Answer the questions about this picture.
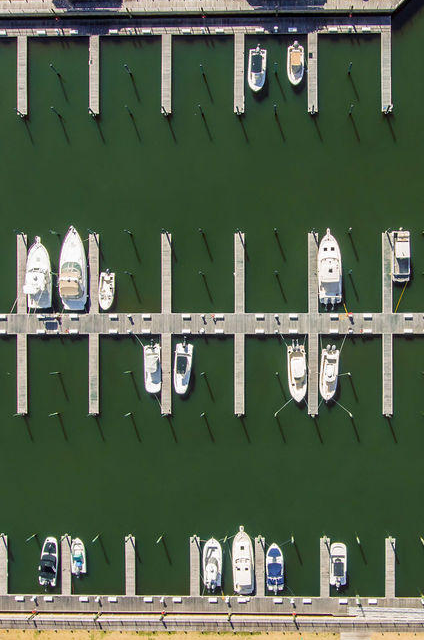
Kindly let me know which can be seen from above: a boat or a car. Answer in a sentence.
Visible in the photo is a boat.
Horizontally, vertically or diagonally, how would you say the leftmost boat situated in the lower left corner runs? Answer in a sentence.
In this picture, the leftmost boat situated in the lower left corner is oriented vertically.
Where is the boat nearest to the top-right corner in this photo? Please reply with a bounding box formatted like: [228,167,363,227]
[287,43,304,85]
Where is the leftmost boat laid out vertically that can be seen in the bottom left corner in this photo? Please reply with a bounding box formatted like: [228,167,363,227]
[39,537,59,595]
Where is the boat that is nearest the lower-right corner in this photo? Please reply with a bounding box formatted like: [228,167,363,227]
[330,543,347,589]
